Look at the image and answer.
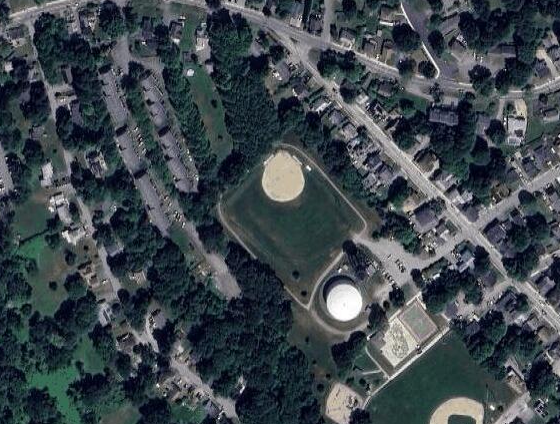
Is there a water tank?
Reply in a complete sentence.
Yes, the image includes a water tank.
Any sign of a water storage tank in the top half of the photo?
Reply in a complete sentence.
No, there is no water storage tank in the top half of the photo.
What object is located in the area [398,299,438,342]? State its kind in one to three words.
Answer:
sports court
